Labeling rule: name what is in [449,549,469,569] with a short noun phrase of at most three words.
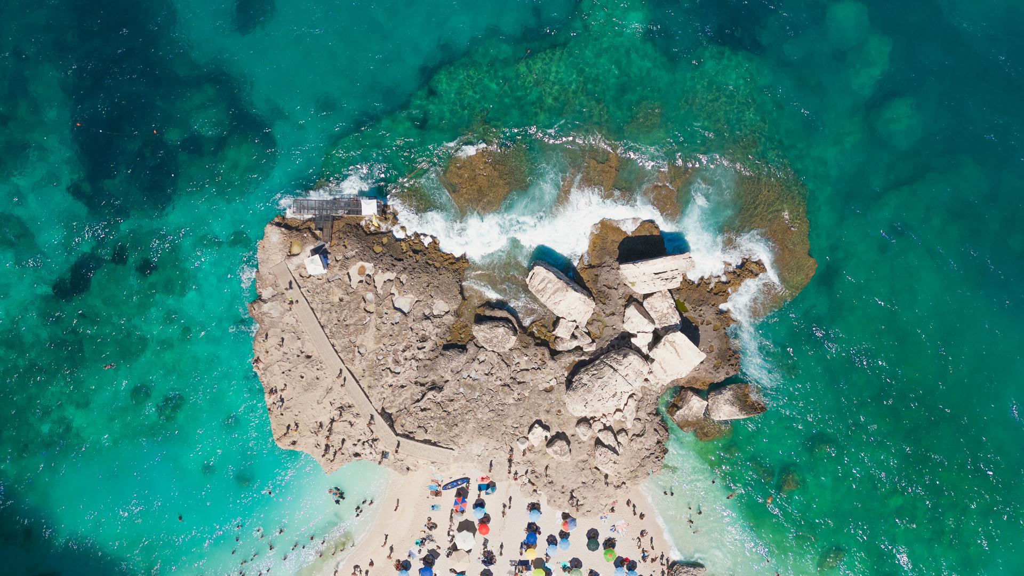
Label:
umbrella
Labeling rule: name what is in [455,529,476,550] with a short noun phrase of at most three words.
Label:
umbrella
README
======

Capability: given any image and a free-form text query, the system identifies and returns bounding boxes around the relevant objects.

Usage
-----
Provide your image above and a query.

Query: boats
[442,478,471,491]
